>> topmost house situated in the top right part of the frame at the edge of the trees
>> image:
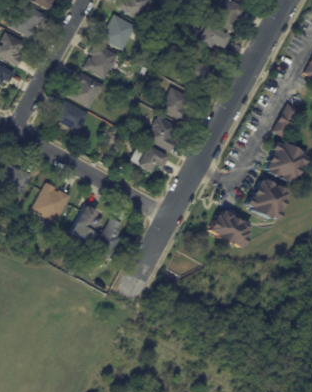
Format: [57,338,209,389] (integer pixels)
[220,0,244,26]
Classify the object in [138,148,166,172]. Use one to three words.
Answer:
house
